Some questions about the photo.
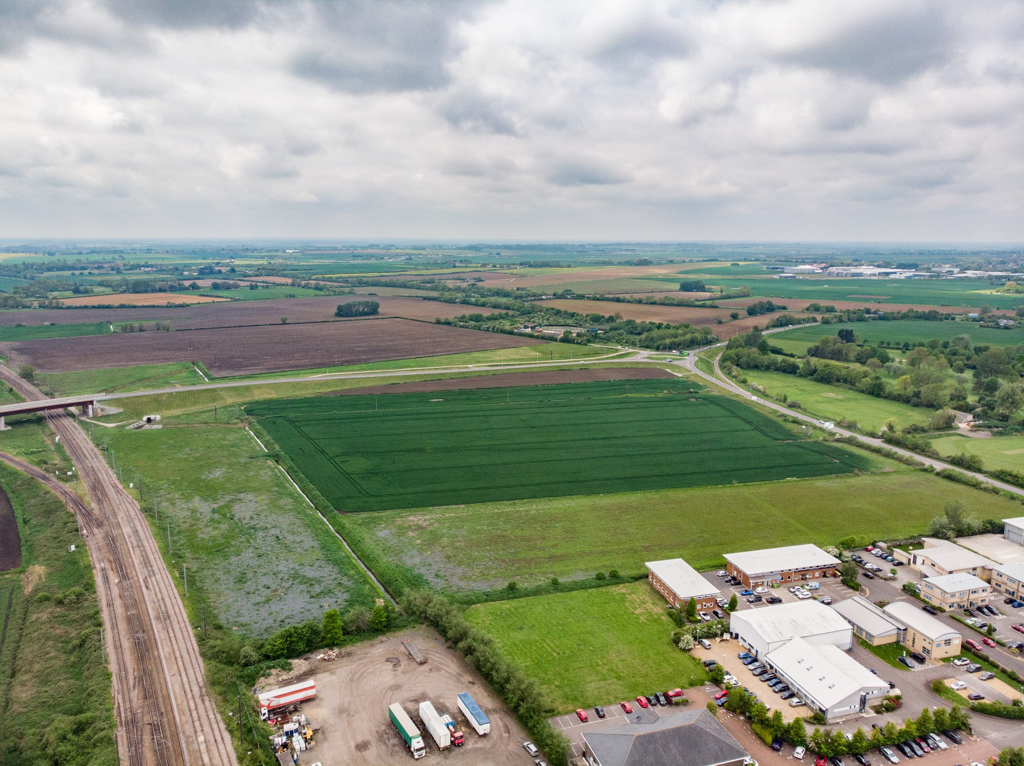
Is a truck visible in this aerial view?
Yes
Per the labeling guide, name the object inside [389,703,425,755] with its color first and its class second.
white truck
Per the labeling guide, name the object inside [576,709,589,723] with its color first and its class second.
red vehicle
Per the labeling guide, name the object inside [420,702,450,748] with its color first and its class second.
white trailer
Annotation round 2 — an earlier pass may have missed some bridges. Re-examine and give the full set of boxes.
[0,392,129,426]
